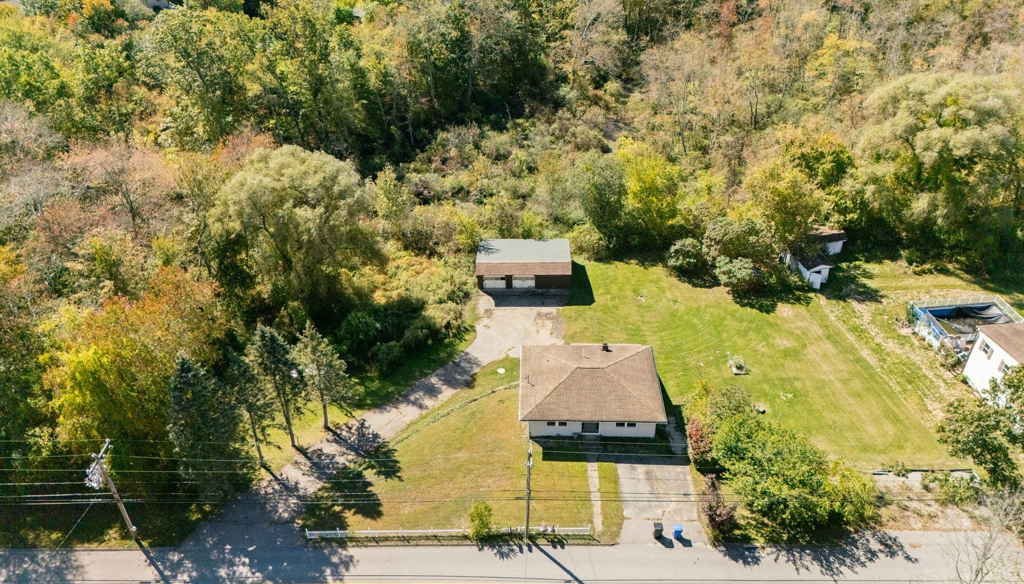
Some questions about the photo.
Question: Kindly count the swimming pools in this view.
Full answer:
I count just 1 swimming pool.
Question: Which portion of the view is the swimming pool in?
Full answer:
The swimming pool sits in the right section of the image.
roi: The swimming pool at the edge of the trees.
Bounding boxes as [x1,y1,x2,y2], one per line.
[899,294,1018,372]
